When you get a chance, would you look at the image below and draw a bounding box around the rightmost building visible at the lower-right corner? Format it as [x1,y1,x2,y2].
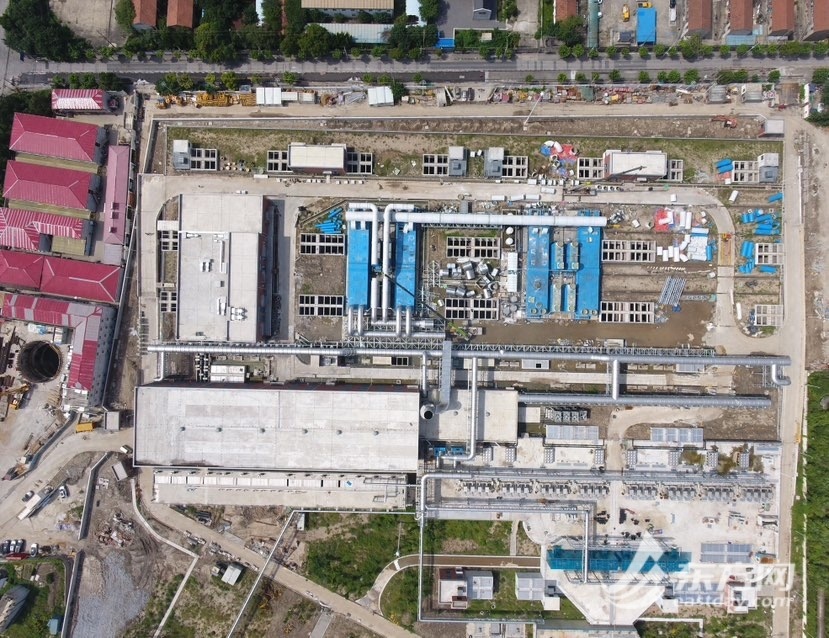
[718,571,759,613]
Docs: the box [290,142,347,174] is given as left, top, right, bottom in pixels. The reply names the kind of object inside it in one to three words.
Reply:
building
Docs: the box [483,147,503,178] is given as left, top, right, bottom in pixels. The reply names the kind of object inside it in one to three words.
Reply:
house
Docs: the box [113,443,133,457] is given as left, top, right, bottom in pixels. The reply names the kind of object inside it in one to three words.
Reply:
vehicle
